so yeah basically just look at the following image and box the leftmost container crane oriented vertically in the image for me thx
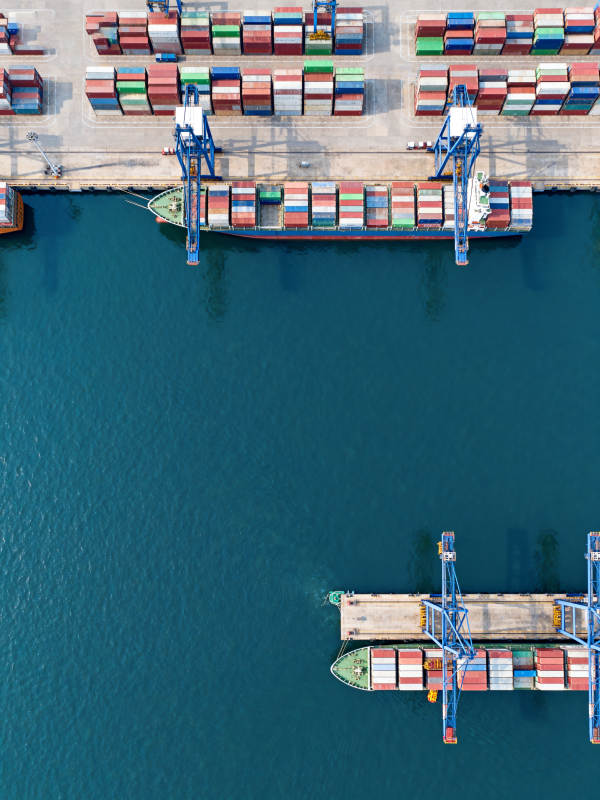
[173,82,220,267]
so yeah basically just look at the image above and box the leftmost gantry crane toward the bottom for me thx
[416,530,476,746]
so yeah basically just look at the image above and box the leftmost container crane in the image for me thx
[147,0,191,23]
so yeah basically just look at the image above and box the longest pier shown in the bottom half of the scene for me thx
[341,591,598,641]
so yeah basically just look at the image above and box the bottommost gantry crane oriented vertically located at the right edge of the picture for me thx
[548,530,600,746]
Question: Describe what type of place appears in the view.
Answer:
port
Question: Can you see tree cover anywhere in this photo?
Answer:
No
